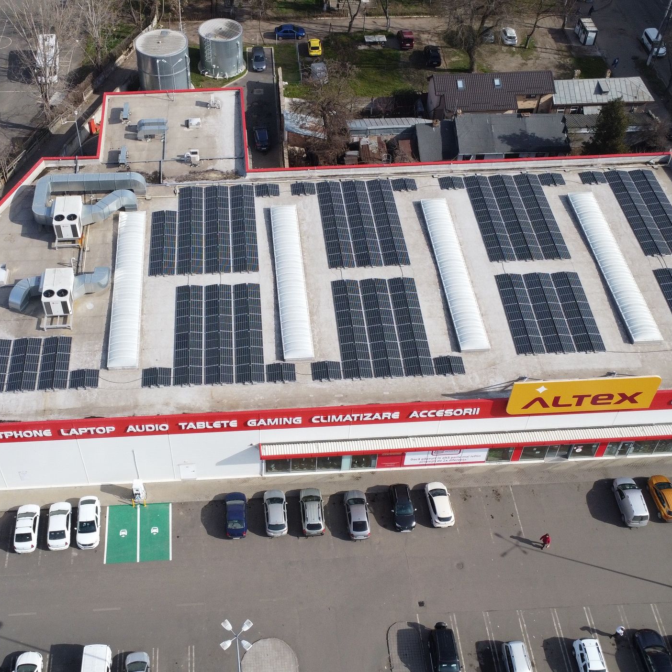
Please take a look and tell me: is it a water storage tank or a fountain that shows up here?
water storage tank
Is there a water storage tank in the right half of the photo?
No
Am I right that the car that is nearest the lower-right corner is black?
Yes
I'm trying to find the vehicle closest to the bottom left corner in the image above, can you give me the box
[14,649,43,672]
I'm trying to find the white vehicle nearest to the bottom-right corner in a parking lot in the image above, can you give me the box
[570,633,611,672]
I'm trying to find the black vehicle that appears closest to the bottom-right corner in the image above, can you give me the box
[635,628,672,672]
